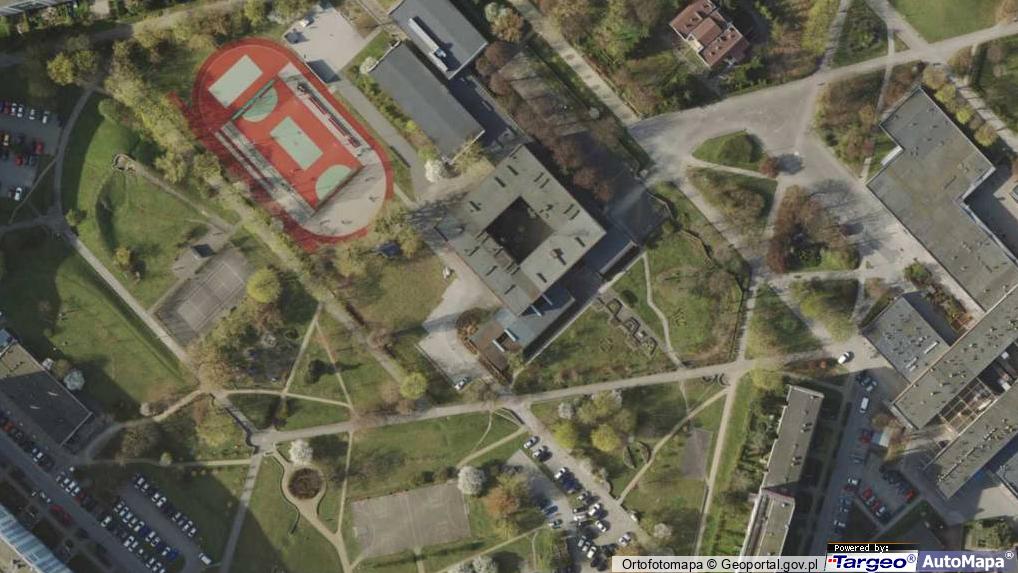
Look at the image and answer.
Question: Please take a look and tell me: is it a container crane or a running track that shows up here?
running track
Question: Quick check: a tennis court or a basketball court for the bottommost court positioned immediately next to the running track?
tennis court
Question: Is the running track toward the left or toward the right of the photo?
left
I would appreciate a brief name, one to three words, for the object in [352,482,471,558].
sports court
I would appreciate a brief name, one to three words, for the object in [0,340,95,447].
building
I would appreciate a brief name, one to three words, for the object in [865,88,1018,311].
building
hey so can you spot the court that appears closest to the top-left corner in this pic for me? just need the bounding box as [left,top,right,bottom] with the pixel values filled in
[208,55,262,107]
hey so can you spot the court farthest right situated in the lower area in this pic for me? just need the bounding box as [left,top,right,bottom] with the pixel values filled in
[681,430,712,479]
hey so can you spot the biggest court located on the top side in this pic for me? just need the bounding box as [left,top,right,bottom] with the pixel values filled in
[215,63,385,236]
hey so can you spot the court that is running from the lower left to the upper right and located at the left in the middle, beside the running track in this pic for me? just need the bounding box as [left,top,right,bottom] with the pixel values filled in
[154,247,260,345]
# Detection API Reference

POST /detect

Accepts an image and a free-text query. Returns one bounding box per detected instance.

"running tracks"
[168,36,395,249]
